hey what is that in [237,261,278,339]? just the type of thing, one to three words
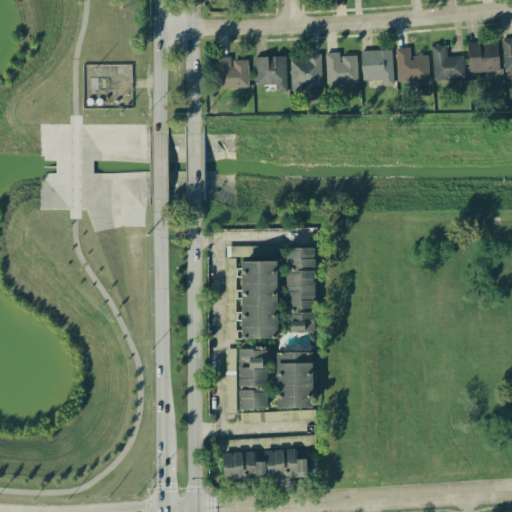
building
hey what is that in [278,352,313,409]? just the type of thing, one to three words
building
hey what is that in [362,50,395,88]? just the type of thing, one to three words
house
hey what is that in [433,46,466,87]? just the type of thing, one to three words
house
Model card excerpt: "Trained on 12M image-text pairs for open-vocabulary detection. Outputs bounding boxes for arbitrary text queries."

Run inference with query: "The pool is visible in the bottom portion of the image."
[280,333,314,351]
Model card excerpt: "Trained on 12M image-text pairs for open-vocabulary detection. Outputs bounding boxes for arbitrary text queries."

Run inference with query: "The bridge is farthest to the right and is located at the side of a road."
[186,126,206,201]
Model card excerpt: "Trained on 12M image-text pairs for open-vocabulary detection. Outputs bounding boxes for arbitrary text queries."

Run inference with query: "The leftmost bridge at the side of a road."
[152,126,169,204]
